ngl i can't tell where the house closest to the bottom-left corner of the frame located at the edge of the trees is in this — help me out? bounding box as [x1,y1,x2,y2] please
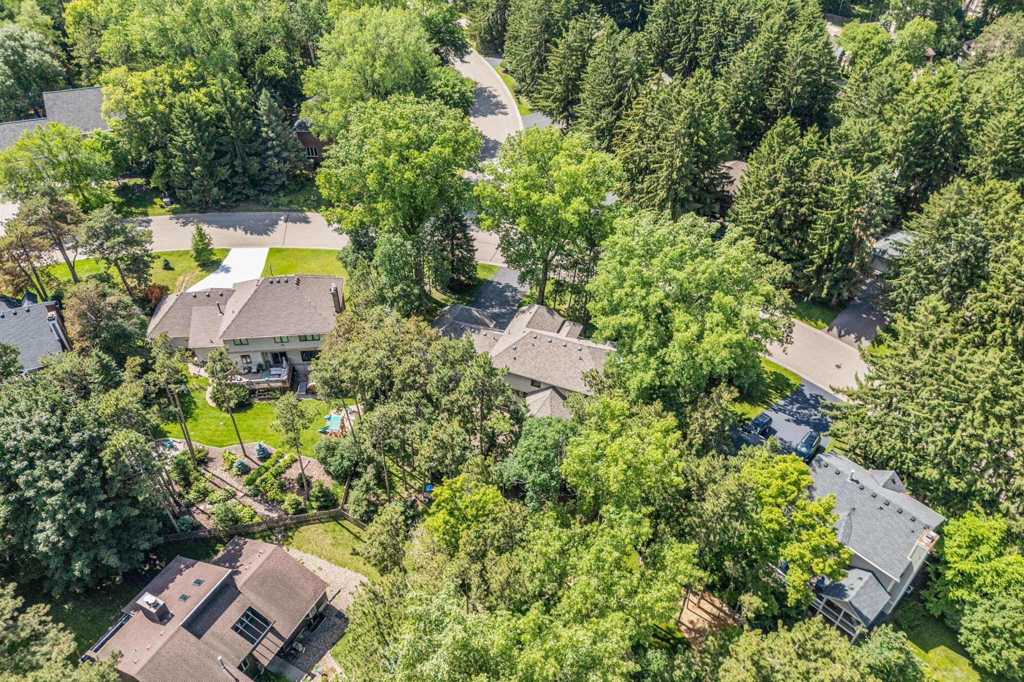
[71,536,329,682]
